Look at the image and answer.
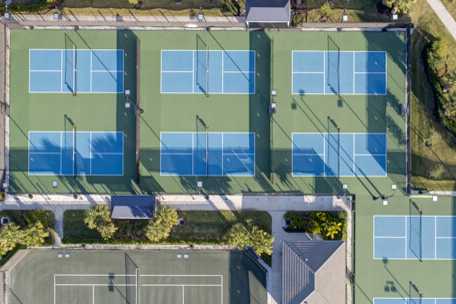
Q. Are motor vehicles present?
No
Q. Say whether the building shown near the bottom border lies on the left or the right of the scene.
right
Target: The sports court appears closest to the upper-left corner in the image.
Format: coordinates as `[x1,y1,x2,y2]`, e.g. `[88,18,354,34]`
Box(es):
[10,31,139,112]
